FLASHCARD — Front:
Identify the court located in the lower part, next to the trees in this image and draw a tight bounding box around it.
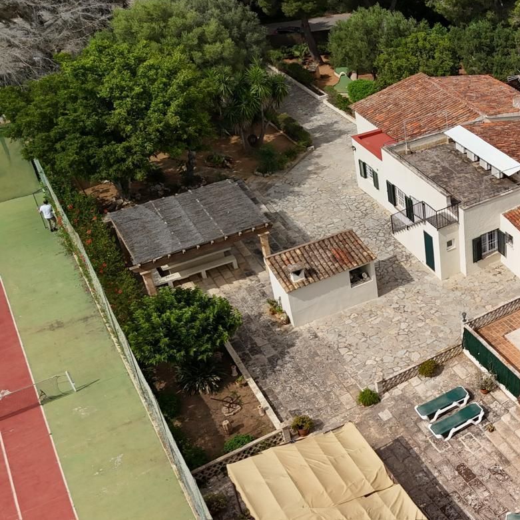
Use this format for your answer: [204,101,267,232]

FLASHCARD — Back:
[0,188,199,520]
